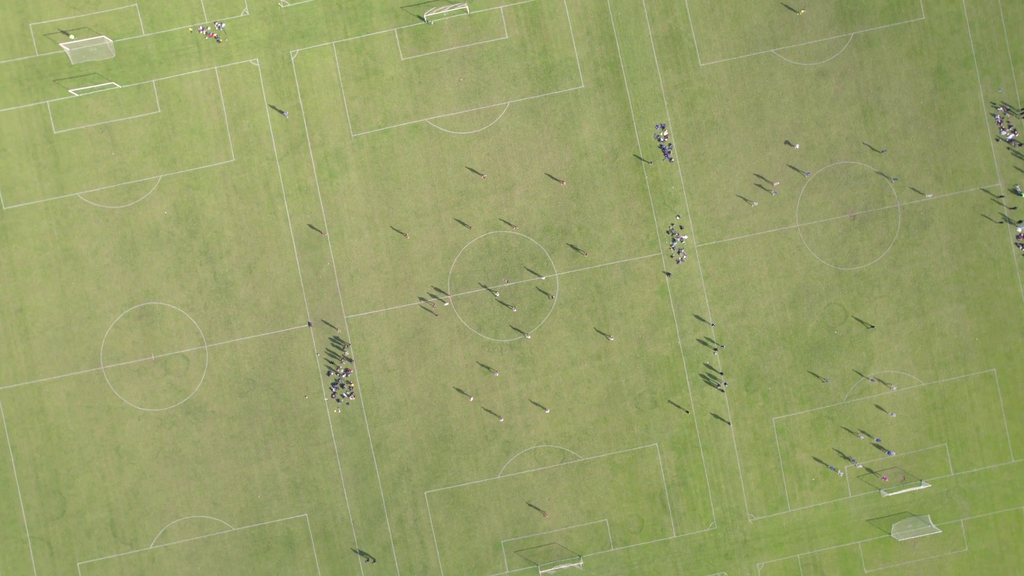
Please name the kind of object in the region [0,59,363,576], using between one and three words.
soccer field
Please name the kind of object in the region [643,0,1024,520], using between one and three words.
soccer field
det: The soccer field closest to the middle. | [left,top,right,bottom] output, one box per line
[290,0,717,576]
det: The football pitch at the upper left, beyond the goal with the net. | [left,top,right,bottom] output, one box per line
[0,0,249,63]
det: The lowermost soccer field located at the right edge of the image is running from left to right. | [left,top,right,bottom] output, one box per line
[757,507,1024,576]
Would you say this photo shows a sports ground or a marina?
sports ground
